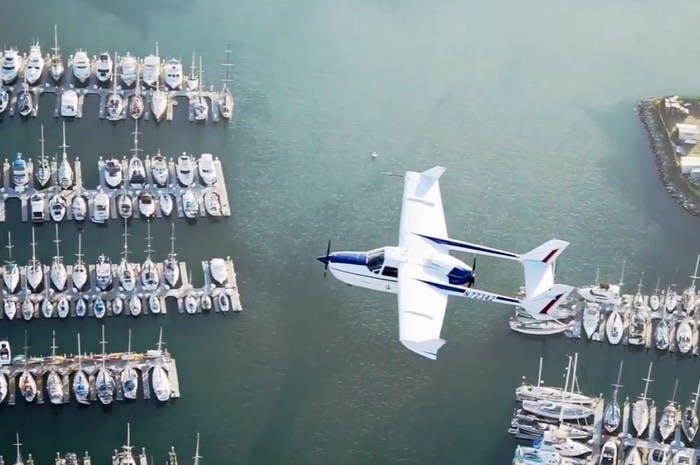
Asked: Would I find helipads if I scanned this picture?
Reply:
No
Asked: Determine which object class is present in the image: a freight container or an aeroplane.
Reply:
aeroplane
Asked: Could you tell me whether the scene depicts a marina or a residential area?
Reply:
marina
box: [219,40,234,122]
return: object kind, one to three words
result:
boat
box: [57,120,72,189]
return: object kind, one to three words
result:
boat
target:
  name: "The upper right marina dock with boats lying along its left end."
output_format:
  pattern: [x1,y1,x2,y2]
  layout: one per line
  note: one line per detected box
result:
[563,290,700,356]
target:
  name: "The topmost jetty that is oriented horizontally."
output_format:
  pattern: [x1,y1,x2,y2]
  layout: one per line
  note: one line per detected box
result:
[0,55,221,123]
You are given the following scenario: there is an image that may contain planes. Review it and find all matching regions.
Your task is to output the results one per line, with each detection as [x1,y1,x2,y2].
[318,167,574,358]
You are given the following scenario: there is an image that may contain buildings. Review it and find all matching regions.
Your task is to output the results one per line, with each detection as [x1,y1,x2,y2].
[677,120,700,143]
[681,155,700,174]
